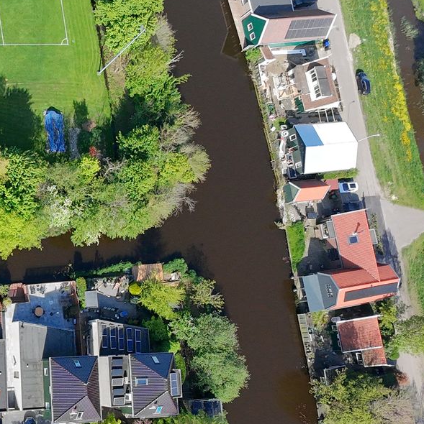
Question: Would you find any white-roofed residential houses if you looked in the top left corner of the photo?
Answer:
No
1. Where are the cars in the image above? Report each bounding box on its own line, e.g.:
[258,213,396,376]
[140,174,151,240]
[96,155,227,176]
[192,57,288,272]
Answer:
[354,71,371,94]
[338,193,363,206]
[22,416,36,424]
[293,0,310,7]
[338,181,359,193]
